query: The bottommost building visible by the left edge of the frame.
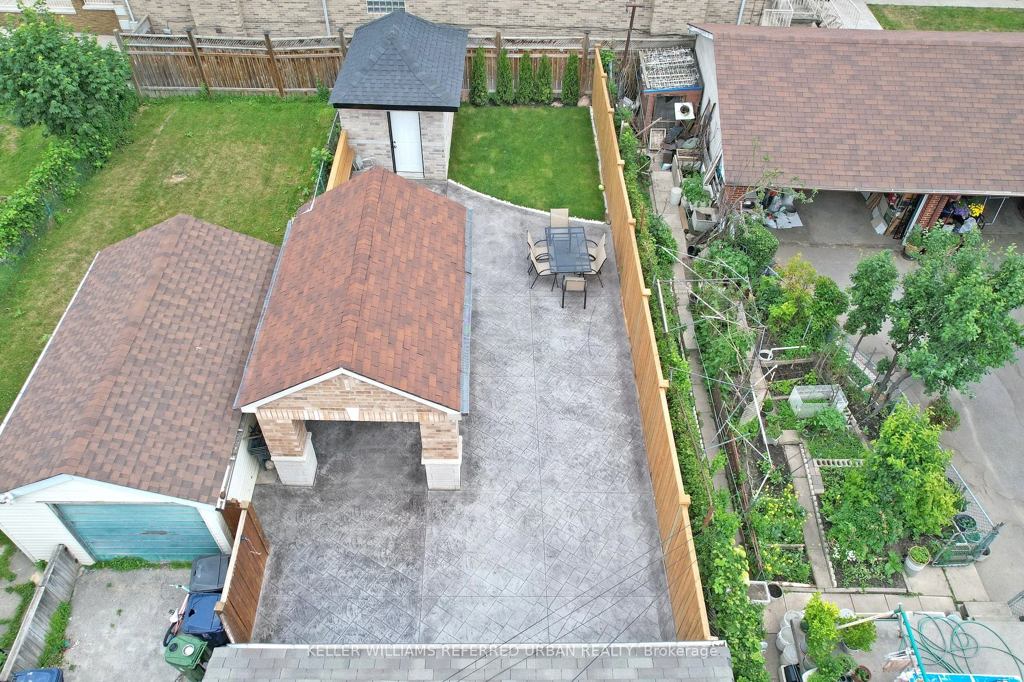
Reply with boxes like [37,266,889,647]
[0,210,278,560]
